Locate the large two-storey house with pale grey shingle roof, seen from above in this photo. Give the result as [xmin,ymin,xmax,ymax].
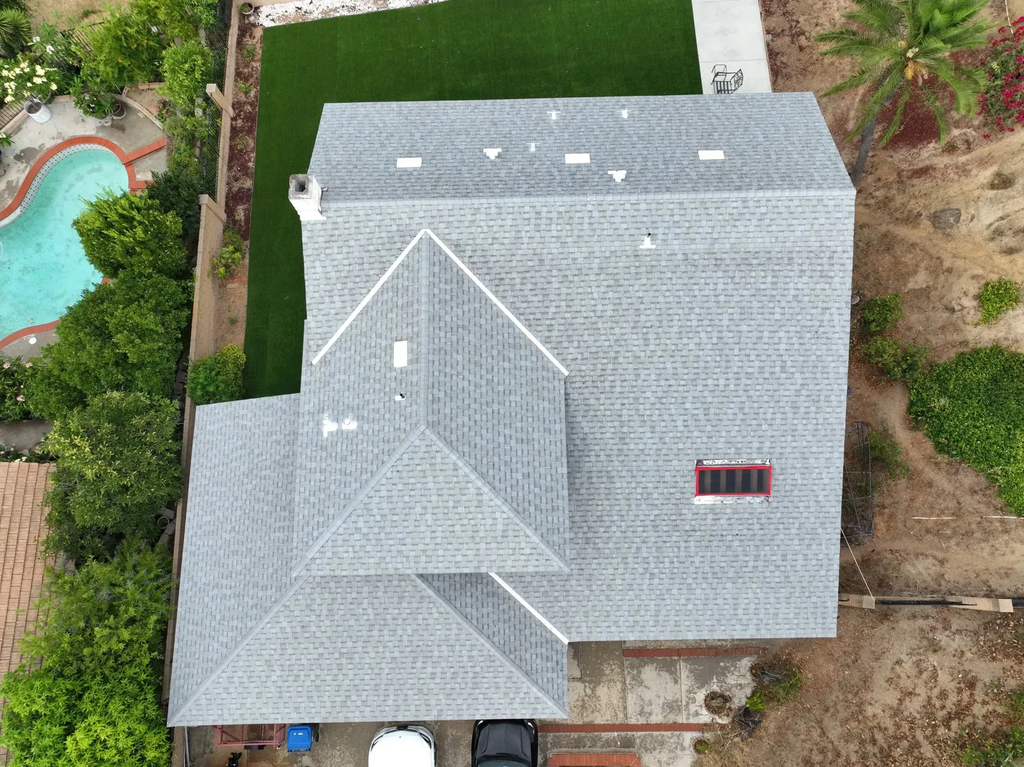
[167,91,857,729]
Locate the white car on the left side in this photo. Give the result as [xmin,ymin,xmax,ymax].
[368,723,434,767]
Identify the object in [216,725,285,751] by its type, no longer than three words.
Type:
trailer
